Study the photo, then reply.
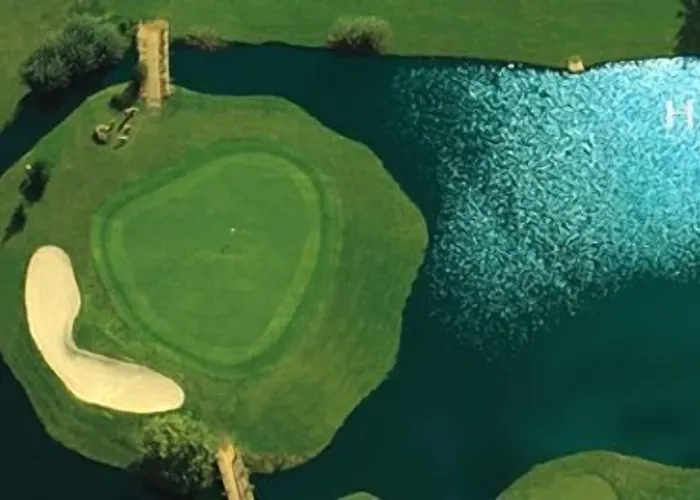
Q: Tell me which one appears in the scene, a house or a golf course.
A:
golf course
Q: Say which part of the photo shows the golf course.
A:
left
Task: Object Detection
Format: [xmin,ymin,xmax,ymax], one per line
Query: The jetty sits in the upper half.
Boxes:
[566,51,585,75]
